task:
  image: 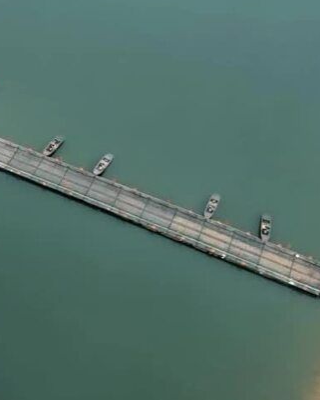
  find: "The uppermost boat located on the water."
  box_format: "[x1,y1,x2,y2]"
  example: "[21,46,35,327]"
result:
[45,136,65,156]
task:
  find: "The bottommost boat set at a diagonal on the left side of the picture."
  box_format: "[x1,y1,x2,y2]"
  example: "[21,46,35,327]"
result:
[93,154,114,178]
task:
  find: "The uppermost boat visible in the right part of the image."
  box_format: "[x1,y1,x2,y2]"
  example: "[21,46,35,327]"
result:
[204,193,221,219]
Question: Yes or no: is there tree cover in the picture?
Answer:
No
